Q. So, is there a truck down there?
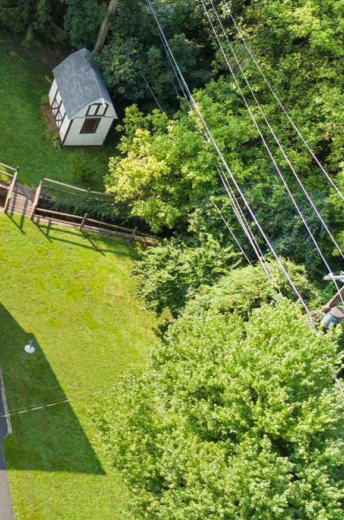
No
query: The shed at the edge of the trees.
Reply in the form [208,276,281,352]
[44,49,118,147]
